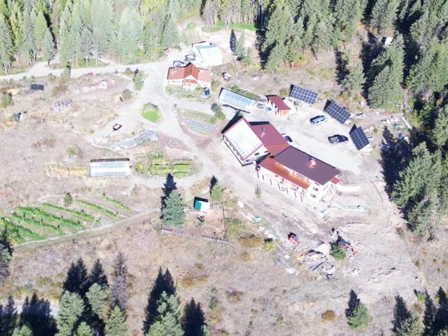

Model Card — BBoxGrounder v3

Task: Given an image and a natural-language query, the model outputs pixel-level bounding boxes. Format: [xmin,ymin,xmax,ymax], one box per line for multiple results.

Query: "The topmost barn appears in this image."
[195,43,222,72]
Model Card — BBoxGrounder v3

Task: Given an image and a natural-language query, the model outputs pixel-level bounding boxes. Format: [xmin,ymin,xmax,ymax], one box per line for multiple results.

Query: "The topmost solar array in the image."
[290,85,318,104]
